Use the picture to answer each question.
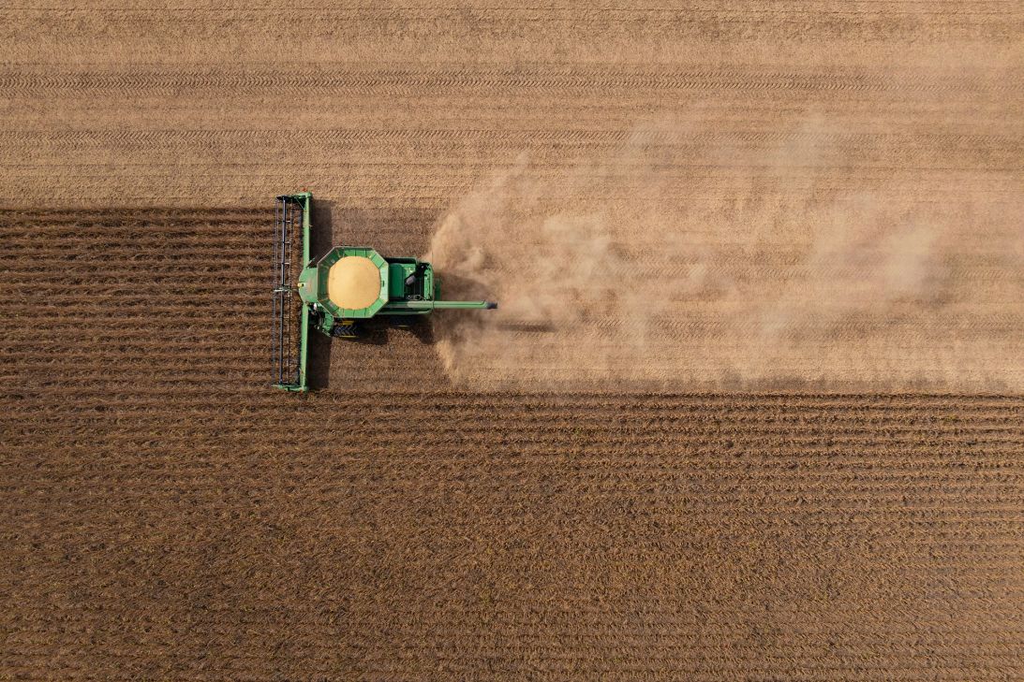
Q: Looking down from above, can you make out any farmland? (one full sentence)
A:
Yes, there is farmland in the image.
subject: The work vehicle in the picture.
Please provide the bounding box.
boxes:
[271,188,499,392]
